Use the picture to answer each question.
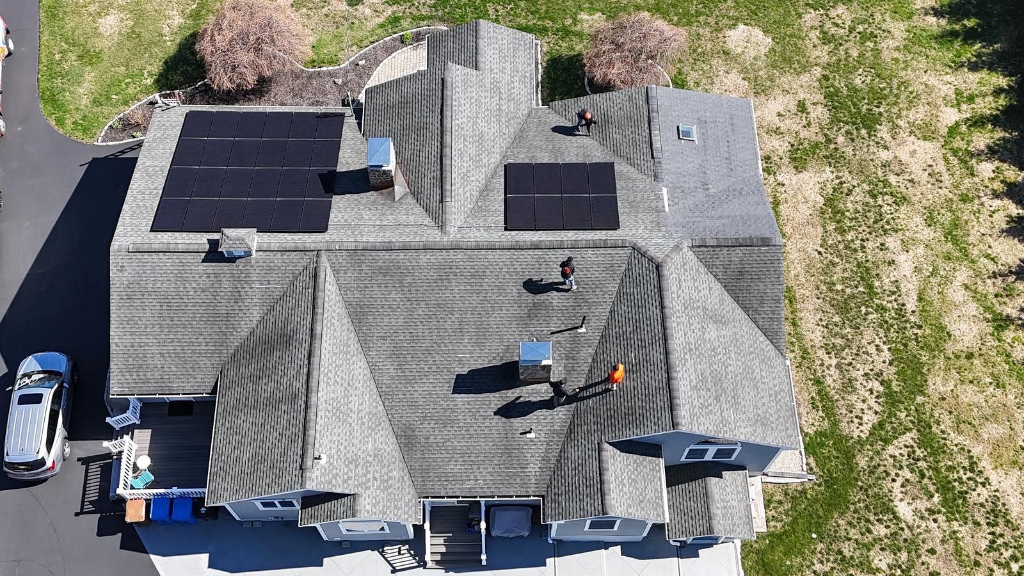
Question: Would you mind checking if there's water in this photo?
No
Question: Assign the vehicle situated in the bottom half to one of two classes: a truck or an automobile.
automobile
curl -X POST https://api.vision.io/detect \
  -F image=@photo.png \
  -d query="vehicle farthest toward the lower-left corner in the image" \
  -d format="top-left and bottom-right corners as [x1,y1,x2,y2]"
[1,347,77,483]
